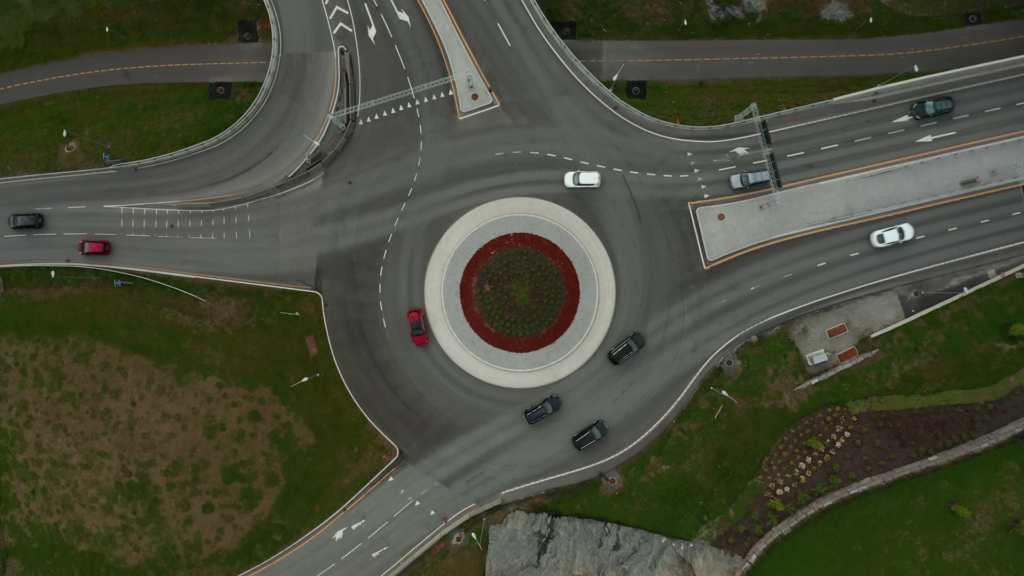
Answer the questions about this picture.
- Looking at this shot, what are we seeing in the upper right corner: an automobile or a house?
automobile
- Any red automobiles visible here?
Yes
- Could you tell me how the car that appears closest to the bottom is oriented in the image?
on a diagonal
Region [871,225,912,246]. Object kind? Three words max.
car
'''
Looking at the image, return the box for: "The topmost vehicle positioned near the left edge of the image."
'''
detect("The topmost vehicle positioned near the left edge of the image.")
[8,212,42,229]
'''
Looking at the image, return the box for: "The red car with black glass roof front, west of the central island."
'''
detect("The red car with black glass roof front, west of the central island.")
[408,308,428,346]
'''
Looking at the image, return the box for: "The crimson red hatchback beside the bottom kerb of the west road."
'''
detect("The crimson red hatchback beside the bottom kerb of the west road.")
[78,240,111,257]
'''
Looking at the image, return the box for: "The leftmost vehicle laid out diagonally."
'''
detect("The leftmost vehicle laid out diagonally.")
[524,395,561,425]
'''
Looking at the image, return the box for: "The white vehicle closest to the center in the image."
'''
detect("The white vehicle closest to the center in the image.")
[564,170,600,188]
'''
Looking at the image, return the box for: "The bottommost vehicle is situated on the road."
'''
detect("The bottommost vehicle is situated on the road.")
[572,420,608,451]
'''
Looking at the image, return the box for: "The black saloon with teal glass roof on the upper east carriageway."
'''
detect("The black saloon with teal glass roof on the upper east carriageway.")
[910,98,952,120]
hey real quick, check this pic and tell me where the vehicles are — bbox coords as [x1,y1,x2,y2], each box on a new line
[871,225,912,246]
[910,98,952,120]
[732,171,771,190]
[572,420,608,451]
[609,334,644,364]
[524,395,561,425]
[408,308,428,346]
[564,170,600,188]
[78,240,111,257]
[8,212,42,229]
